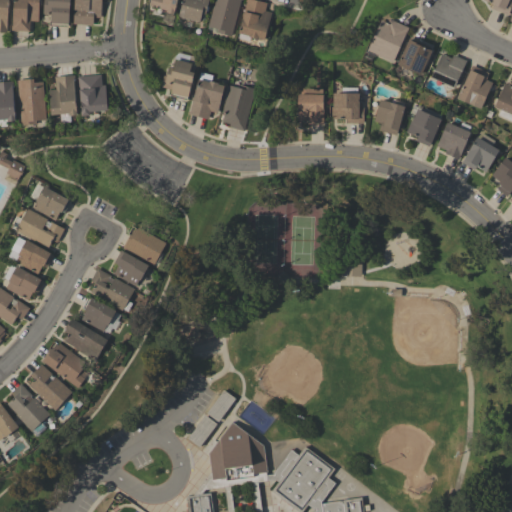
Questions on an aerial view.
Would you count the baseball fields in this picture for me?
three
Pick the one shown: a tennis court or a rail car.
tennis court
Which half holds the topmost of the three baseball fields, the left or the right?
right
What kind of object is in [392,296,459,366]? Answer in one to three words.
baseball field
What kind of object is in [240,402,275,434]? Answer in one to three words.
basketball court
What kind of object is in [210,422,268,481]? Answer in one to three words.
building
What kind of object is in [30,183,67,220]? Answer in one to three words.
house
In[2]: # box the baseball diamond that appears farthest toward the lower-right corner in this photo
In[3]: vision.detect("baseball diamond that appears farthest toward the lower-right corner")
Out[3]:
[378,424,436,499]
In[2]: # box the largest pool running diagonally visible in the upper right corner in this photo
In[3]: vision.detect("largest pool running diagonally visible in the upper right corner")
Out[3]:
[426,79,447,97]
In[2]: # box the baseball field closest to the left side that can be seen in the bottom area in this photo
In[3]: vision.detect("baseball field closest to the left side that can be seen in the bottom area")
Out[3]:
[252,344,323,404]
